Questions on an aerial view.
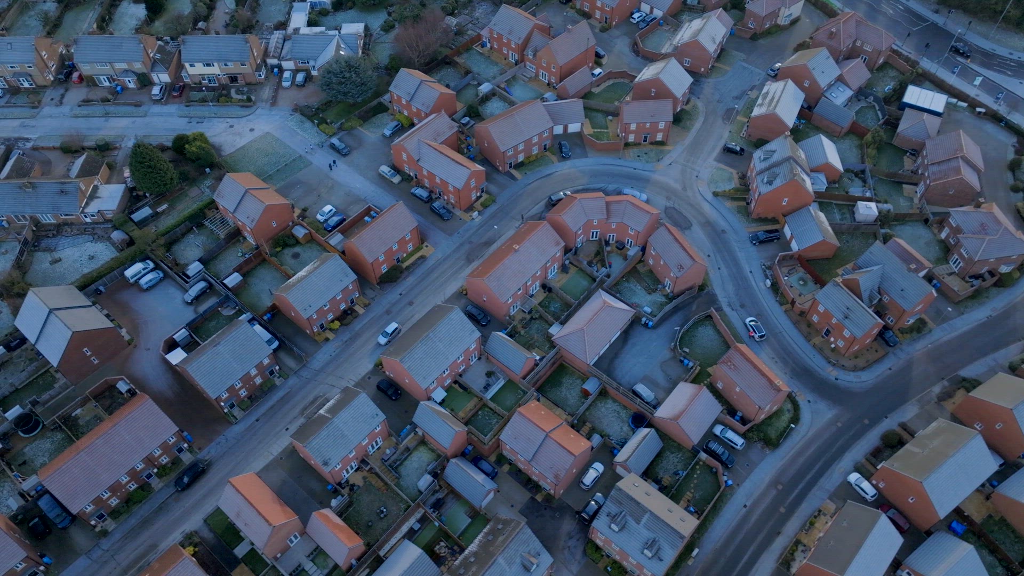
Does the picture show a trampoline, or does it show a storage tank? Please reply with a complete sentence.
The image shows a trampoline.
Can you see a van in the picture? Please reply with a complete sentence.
Yes, there's a van here.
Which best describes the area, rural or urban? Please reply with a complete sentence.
The area is urban.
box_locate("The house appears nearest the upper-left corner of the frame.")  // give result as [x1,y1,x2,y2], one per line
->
[0,35,63,87]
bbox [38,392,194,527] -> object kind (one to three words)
house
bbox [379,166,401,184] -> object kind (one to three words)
car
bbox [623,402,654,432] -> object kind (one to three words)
trampoline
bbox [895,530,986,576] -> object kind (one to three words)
building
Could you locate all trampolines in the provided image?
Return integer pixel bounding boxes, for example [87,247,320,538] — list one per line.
[5,407,42,439]
[623,402,654,432]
